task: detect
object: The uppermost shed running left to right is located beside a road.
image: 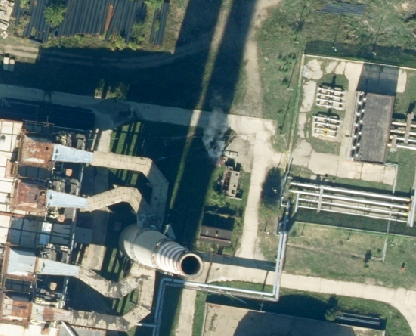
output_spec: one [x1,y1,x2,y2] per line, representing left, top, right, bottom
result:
[0,100,95,130]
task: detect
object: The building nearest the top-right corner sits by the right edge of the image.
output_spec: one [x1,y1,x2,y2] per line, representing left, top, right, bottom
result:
[347,92,396,164]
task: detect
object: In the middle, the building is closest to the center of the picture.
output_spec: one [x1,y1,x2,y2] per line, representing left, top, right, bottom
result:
[221,166,239,198]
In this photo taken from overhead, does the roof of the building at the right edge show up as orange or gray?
gray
